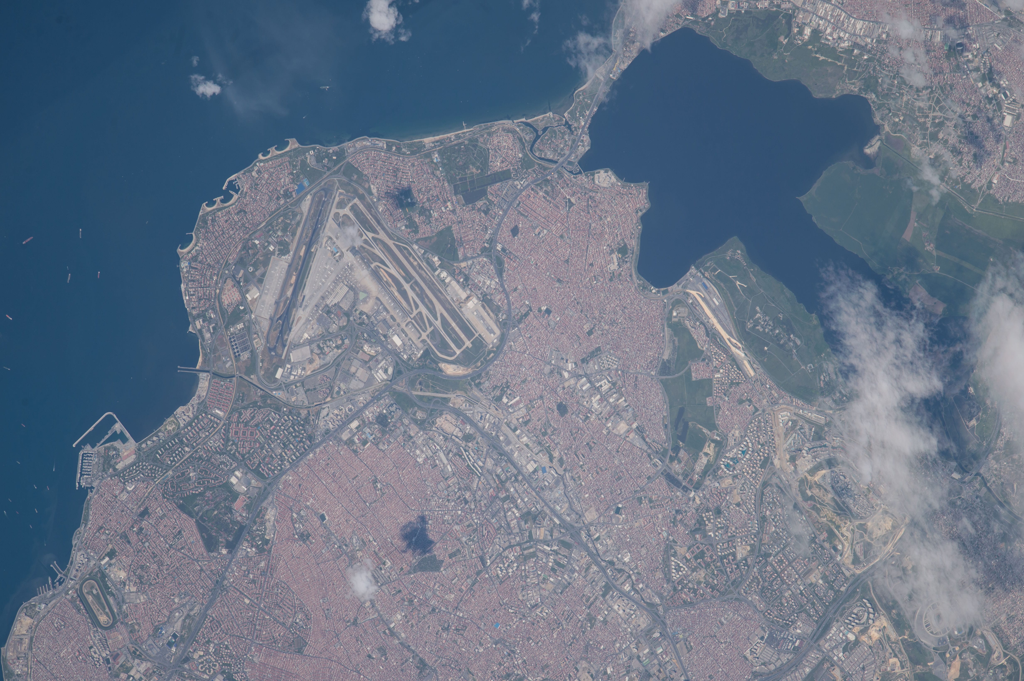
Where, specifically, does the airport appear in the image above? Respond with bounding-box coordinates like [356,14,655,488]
[253,178,498,381]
